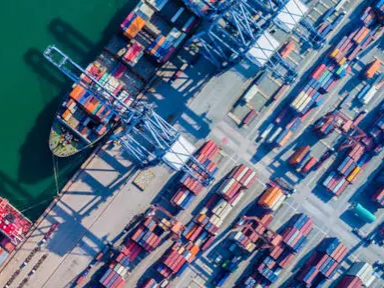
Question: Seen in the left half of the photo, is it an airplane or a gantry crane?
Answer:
gantry crane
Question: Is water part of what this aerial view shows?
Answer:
Yes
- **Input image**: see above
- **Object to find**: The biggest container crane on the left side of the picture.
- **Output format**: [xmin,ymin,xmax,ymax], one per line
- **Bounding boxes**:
[41,40,217,185]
